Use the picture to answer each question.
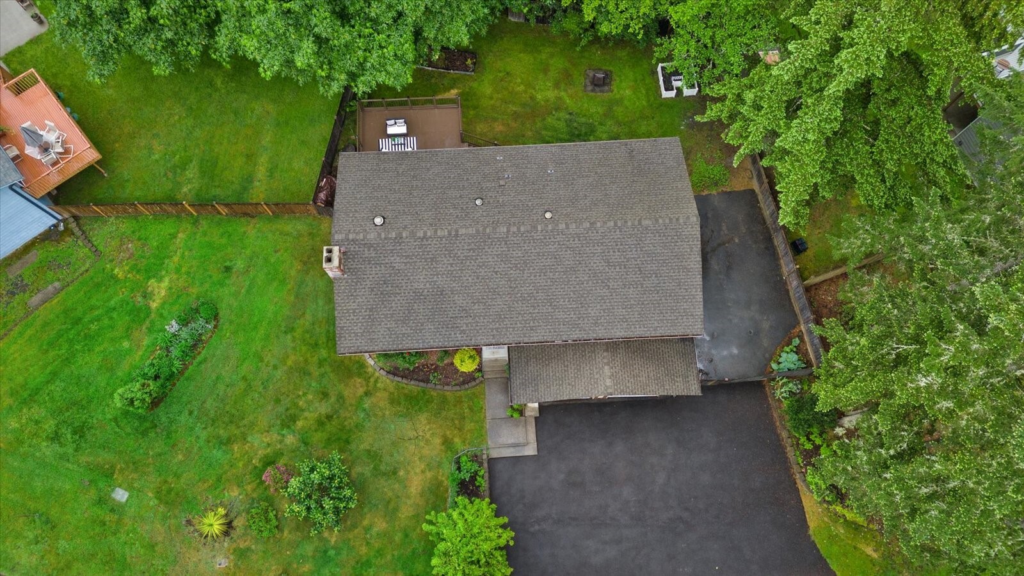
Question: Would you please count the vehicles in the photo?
0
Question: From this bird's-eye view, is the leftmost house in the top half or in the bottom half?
top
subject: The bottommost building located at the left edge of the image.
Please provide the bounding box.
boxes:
[0,141,62,259]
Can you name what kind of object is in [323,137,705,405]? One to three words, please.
house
